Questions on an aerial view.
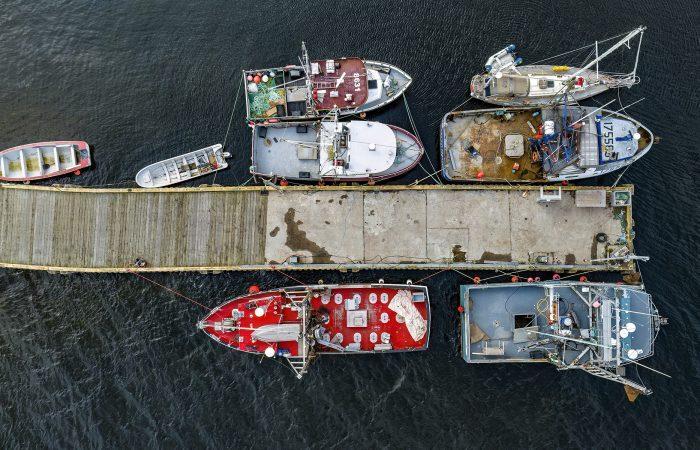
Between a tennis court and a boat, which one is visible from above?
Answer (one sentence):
Of the two, only a boat appears.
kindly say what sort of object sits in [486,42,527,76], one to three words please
boat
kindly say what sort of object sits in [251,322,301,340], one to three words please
boat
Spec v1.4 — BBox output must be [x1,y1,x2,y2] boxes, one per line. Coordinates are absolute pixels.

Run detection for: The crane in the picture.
[592,245,651,264]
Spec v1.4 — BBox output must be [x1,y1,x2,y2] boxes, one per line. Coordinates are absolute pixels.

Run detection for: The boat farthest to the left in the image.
[0,140,92,182]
